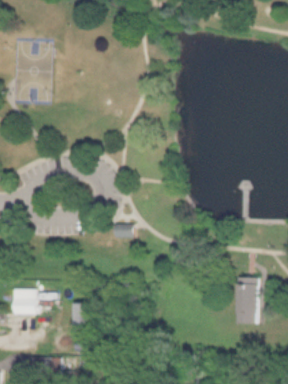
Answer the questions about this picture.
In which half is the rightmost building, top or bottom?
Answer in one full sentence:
It is in the bottom half that the rightmost building appears.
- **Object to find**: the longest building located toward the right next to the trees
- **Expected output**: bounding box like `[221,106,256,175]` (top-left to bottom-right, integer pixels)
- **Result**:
[236,278,260,324]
